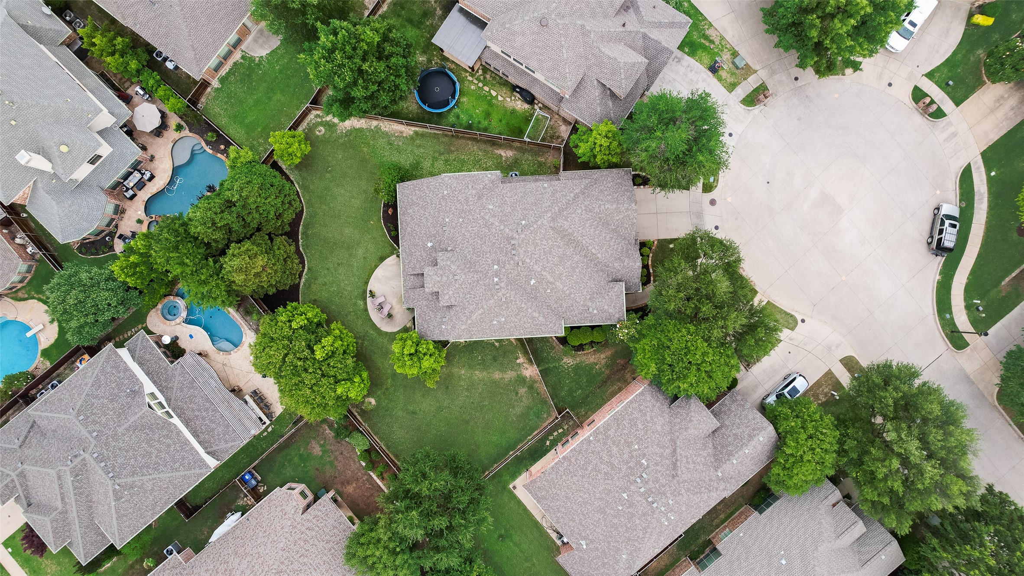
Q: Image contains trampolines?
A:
Yes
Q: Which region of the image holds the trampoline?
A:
top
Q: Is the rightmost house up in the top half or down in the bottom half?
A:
bottom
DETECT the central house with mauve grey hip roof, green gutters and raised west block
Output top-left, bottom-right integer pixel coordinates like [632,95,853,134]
[396,168,642,342]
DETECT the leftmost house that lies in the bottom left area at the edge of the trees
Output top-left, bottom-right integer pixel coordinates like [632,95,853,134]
[0,329,246,565]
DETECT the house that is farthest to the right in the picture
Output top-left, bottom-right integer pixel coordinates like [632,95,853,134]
[674,475,904,576]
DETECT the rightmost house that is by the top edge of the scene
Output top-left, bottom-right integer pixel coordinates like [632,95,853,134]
[462,0,693,131]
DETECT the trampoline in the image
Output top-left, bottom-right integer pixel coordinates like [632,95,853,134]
[412,62,460,113]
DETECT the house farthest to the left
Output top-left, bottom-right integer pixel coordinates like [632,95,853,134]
[0,230,39,293]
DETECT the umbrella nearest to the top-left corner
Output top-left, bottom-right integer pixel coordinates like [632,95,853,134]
[133,103,163,132]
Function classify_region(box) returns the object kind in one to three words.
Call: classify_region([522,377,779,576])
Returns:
house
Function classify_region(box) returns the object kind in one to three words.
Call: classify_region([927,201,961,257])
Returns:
car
